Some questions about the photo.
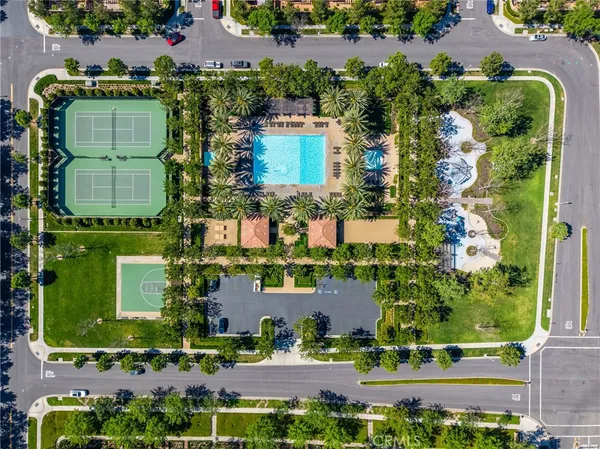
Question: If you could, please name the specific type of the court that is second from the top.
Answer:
tennis court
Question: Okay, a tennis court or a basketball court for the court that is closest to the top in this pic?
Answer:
tennis court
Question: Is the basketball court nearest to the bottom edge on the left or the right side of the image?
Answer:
left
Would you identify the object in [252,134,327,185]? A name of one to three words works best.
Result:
swimming pool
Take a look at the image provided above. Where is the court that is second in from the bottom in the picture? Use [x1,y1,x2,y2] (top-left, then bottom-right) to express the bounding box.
[56,157,167,216]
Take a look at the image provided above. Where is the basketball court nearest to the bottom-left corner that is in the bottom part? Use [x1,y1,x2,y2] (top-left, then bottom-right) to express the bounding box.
[116,256,171,319]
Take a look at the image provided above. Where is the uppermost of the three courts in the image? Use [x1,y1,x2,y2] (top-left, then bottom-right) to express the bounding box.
[56,100,167,157]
